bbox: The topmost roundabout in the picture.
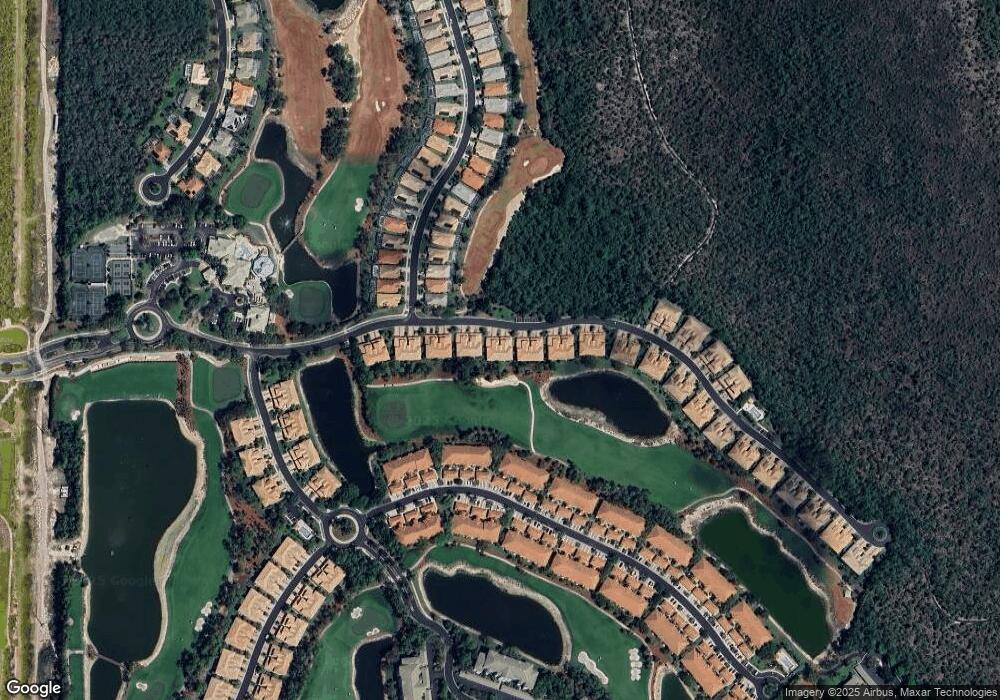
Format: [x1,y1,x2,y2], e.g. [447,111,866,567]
[141,174,170,203]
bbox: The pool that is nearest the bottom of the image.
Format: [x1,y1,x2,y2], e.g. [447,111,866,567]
[775,649,799,674]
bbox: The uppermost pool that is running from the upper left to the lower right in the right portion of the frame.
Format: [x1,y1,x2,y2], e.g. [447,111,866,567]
[744,401,766,421]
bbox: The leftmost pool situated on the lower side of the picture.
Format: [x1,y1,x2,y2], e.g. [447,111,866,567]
[297,522,316,544]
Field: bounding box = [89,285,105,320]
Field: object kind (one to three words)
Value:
tennis court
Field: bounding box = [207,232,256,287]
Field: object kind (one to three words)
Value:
building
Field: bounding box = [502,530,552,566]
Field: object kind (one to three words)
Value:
house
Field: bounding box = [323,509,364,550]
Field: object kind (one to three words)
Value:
roundabout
